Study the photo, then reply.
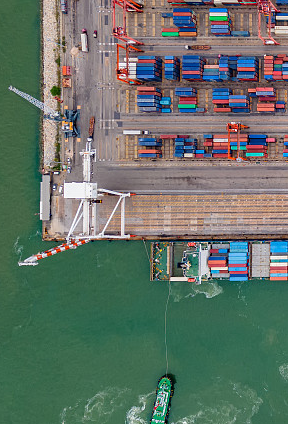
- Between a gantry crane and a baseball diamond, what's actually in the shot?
gantry crane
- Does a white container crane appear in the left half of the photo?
Yes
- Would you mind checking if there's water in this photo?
Yes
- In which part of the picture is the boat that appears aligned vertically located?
bottom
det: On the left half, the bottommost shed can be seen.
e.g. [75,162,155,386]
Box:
[37,175,56,220]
